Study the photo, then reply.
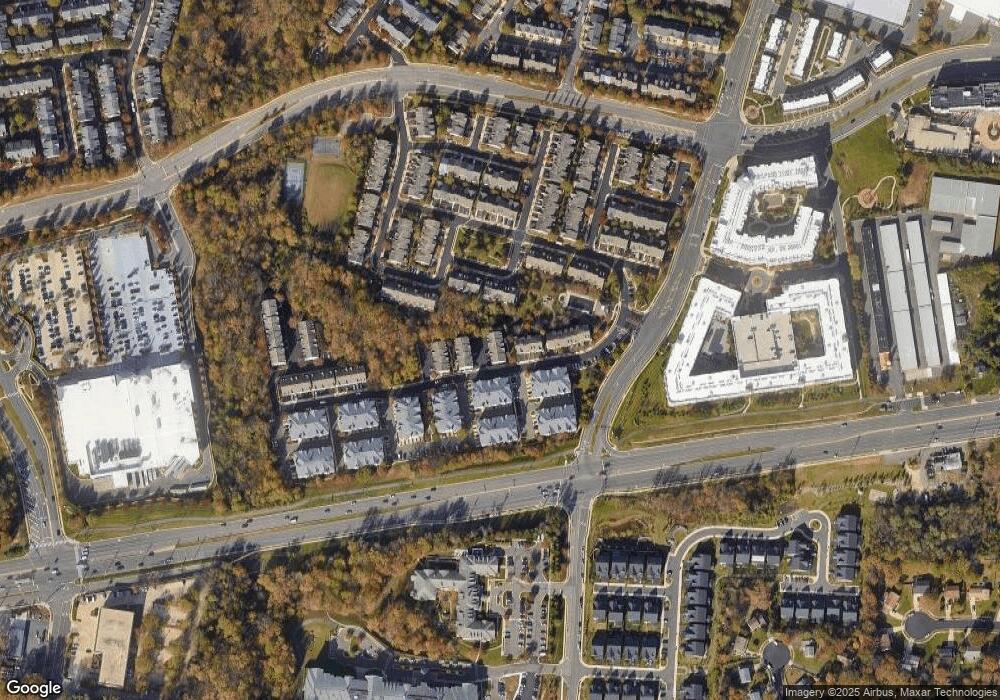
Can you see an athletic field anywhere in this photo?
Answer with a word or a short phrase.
Yes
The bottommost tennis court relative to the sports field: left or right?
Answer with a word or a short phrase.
left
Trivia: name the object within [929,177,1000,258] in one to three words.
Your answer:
building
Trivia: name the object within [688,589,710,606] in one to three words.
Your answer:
house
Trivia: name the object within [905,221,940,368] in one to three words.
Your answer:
building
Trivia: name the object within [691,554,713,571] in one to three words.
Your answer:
house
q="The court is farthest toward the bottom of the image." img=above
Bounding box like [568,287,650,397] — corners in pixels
[284,159,305,200]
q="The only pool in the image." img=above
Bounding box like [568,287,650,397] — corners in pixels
[568,295,596,313]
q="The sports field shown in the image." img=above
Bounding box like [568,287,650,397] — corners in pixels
[305,162,358,228]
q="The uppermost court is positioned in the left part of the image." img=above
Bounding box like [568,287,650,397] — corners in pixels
[312,136,341,156]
